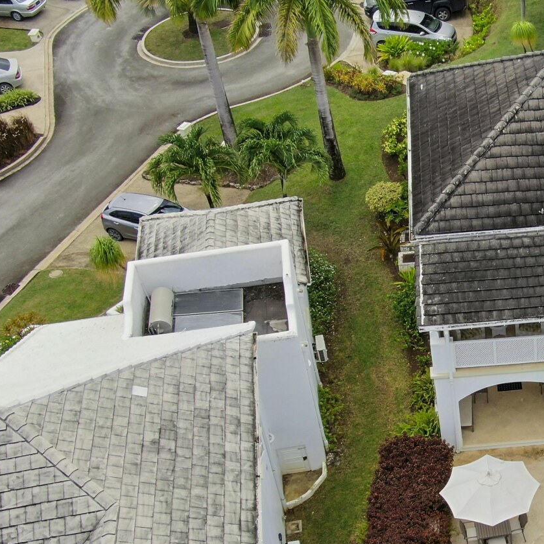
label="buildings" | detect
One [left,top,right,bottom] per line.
[0,194,339,544]
[403,49,544,452]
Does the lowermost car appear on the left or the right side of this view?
left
